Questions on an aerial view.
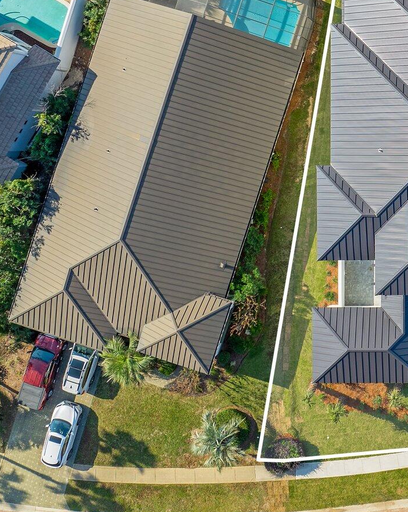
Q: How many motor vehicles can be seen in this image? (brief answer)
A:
3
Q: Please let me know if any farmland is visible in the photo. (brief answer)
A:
No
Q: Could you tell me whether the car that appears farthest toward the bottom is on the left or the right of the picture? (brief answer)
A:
left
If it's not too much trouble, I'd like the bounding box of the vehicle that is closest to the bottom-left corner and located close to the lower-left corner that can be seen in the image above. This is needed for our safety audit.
[43,399,87,469]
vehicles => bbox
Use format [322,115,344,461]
[16,329,68,411]
[43,399,87,469]
[64,337,104,398]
